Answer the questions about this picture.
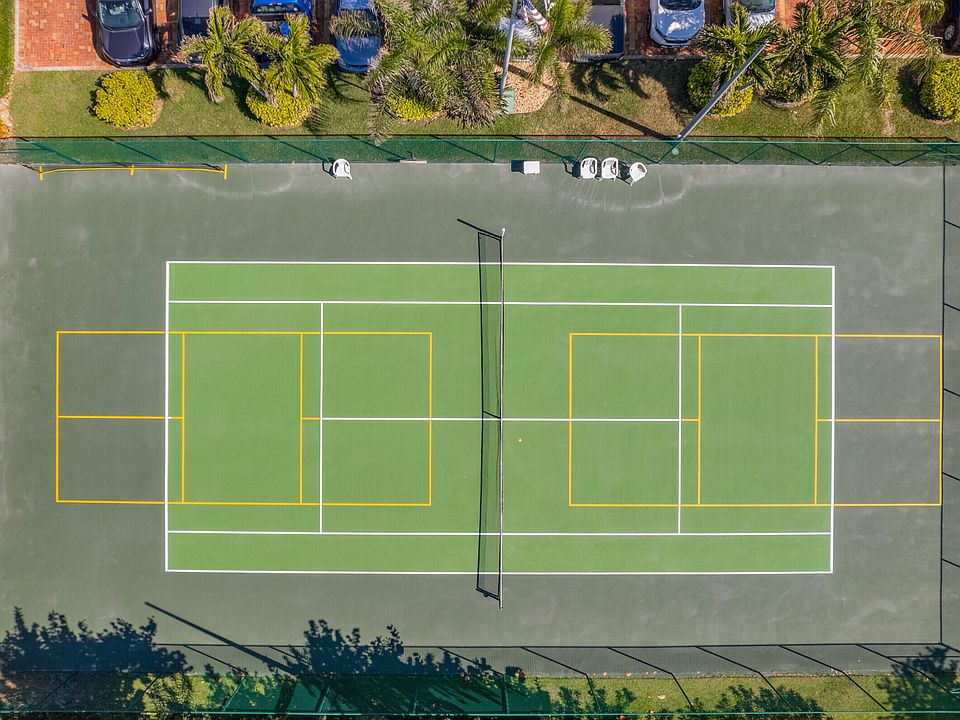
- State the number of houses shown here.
0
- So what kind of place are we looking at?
sports ground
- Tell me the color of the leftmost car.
black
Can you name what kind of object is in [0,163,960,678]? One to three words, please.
tennis court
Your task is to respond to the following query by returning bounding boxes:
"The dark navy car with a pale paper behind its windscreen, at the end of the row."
[86,0,157,67]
